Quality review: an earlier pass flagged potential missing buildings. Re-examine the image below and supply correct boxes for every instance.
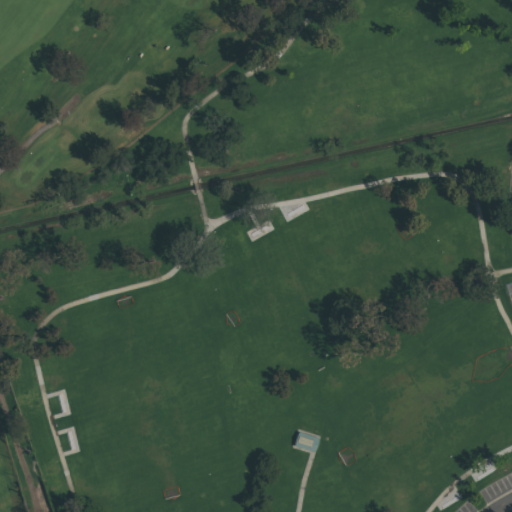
[293,430,322,452]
